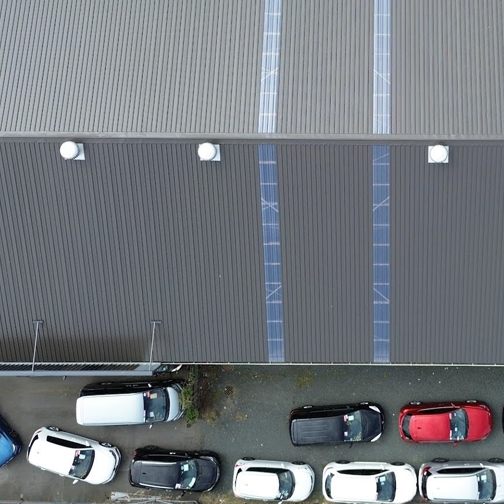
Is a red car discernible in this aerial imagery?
Yes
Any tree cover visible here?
No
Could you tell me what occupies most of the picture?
buildings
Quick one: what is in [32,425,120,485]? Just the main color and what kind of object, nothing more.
white car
